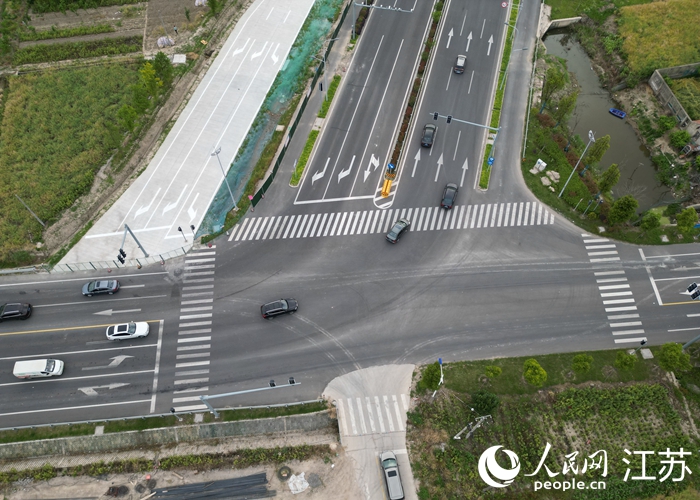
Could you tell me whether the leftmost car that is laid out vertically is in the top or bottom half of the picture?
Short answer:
bottom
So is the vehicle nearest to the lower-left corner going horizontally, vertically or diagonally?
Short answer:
horizontally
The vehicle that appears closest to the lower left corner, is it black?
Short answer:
No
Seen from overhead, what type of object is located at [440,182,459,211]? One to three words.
car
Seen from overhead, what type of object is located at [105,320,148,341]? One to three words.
car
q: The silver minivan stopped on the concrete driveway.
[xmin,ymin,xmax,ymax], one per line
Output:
[379,451,407,500]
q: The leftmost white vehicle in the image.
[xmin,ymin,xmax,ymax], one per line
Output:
[8,358,59,381]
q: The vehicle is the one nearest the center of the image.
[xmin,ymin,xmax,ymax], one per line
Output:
[383,217,412,246]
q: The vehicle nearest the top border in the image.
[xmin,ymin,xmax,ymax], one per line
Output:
[453,55,468,75]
